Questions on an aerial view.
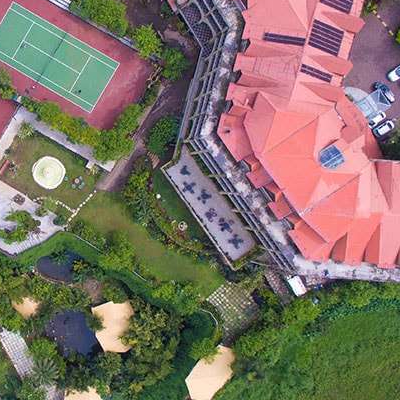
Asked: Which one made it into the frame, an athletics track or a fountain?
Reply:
fountain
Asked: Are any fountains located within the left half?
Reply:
Yes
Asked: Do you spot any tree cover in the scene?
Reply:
Yes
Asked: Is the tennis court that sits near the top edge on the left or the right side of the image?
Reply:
left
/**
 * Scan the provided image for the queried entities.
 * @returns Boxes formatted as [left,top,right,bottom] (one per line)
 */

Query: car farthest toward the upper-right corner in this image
[384,65,400,82]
